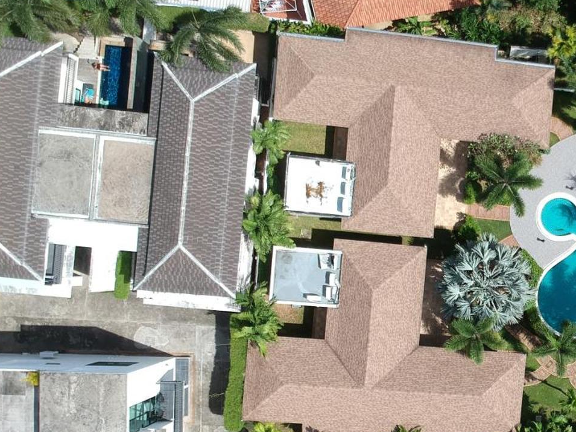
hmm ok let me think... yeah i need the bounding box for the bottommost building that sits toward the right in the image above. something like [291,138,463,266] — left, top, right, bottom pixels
[241,238,527,432]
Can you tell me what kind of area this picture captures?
residential area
